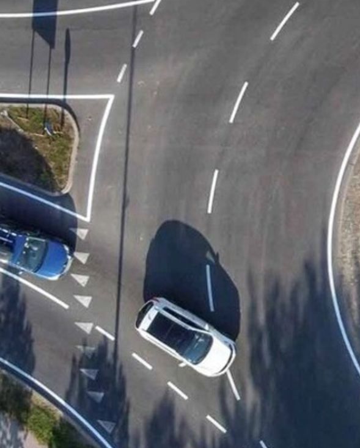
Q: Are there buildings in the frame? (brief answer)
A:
No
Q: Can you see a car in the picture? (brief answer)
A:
Yes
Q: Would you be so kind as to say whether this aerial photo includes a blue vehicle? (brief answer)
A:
Yes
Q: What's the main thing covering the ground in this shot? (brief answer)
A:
paved ground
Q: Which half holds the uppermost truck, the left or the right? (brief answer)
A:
left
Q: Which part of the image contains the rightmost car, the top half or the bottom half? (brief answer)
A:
bottom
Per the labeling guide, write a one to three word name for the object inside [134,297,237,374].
car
